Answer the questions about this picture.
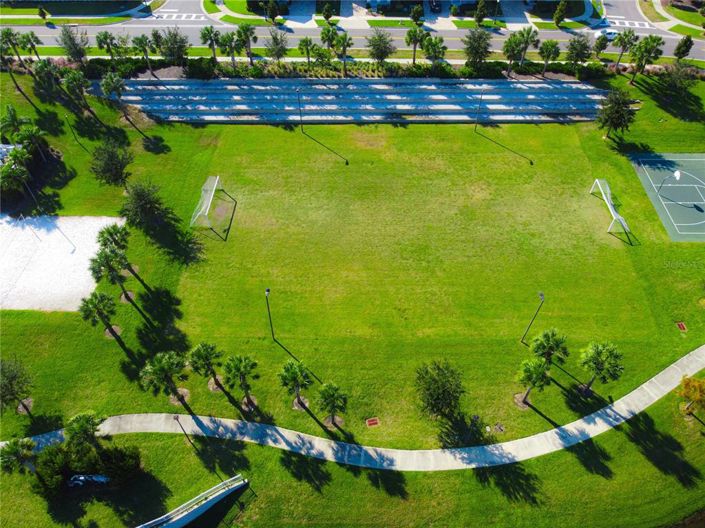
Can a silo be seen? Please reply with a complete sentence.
No, there is no silo in the image.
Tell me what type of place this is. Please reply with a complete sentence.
It's a sports ground.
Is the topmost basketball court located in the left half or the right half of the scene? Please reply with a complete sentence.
The topmost basketball court is on the right side of the image.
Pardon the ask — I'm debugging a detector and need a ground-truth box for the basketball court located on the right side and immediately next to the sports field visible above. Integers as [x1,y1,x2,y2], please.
[629,154,705,241]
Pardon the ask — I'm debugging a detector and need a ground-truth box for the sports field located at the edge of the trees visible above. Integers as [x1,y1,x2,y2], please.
[173,127,663,340]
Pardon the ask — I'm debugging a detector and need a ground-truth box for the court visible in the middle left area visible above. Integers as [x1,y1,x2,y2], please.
[0,215,126,310]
